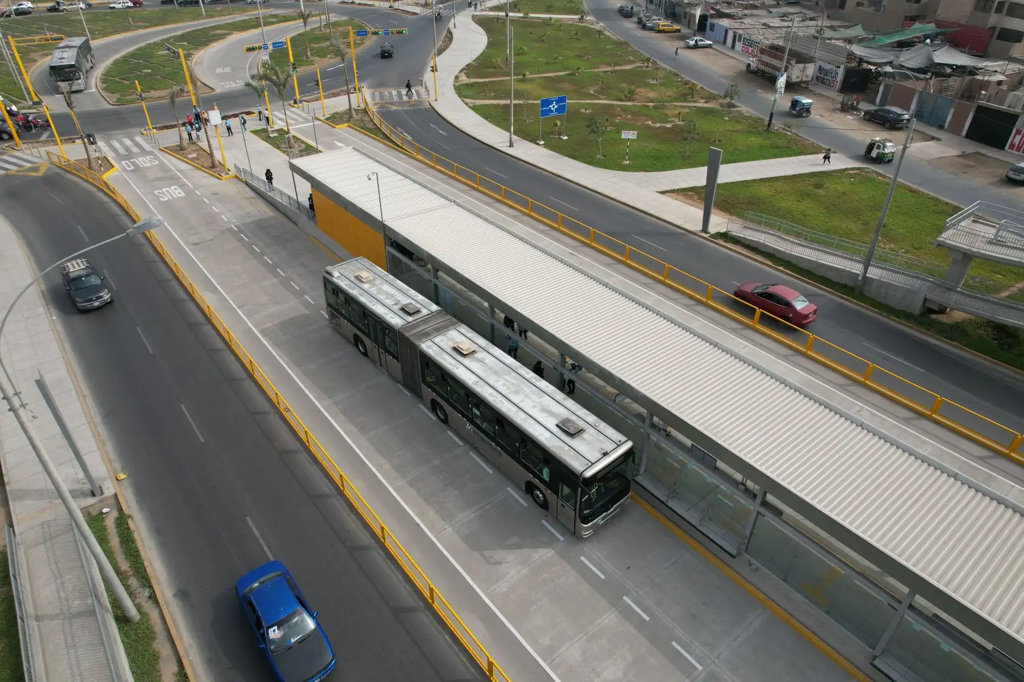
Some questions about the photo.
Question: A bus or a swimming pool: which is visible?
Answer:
bus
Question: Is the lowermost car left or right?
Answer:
left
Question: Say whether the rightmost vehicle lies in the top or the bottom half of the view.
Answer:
top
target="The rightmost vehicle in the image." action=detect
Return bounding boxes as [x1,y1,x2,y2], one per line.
[995,156,1024,188]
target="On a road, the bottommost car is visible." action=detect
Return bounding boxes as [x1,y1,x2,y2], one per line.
[240,557,338,682]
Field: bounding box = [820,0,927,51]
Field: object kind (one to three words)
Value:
building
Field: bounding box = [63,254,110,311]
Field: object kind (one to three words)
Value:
car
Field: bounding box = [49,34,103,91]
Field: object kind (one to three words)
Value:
bus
